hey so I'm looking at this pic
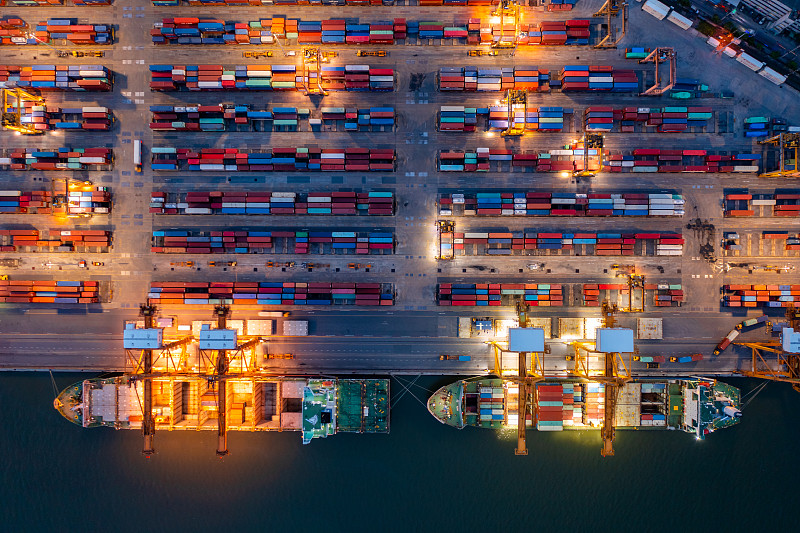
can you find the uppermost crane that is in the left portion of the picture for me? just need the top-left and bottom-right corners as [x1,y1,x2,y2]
[302,48,328,98]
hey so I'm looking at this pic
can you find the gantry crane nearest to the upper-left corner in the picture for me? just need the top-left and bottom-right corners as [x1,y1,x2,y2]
[3,88,41,135]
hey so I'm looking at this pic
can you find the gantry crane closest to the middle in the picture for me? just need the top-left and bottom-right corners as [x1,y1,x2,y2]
[433,219,458,261]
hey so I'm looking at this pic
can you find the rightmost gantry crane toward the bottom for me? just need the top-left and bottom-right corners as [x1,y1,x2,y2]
[739,301,800,395]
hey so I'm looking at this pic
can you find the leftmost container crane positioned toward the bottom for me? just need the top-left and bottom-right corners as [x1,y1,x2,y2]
[123,297,191,454]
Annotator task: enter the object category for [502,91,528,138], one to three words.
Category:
container crane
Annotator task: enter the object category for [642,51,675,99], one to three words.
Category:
container crane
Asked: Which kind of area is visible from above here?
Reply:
port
